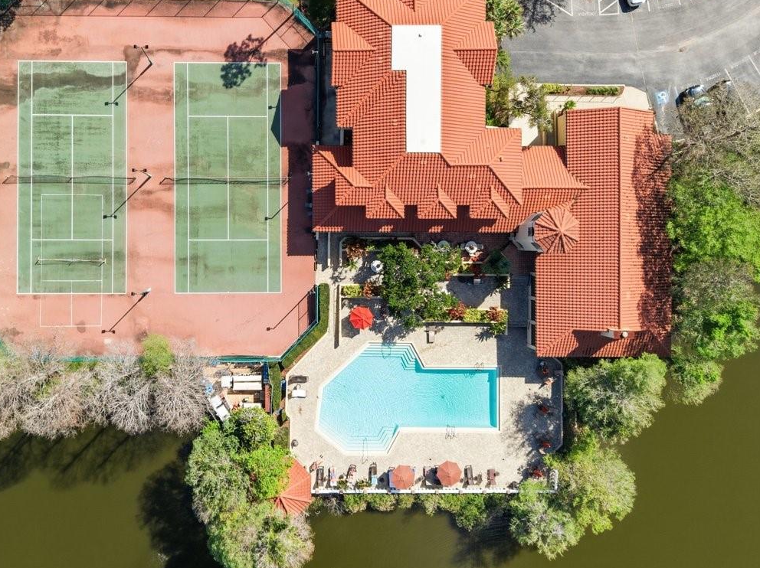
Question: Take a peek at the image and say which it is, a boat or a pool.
pool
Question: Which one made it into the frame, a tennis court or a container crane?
tennis court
